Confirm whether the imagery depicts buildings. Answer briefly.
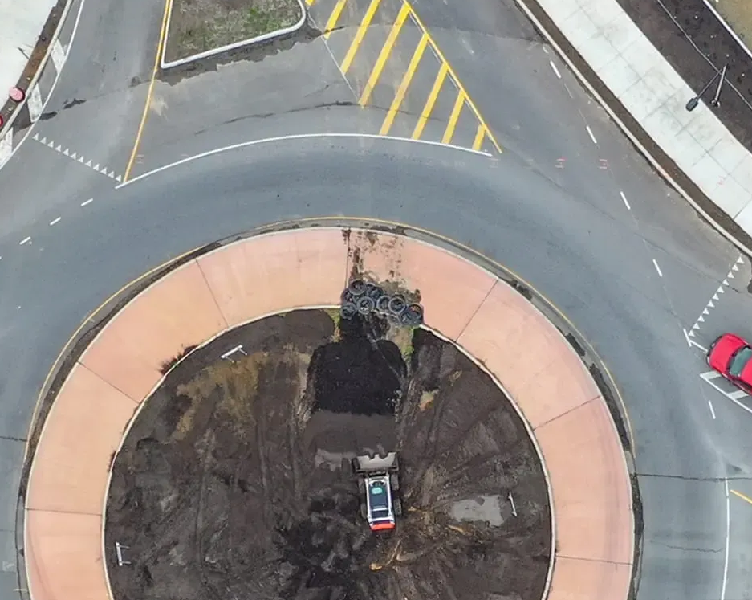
No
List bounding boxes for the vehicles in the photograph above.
[706,334,752,396]
[349,452,400,529]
